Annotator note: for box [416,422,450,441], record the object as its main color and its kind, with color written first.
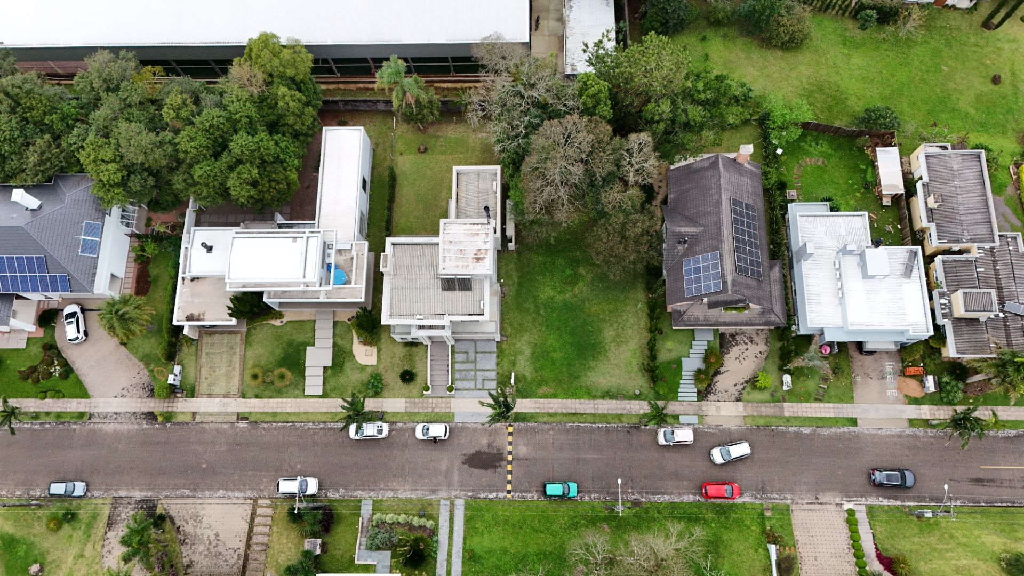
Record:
white car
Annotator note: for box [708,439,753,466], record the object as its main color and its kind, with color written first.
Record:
white car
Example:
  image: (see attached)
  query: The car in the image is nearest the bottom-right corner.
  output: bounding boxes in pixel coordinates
[866,468,914,489]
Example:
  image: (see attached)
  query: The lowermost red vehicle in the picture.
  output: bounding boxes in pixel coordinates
[700,481,741,501]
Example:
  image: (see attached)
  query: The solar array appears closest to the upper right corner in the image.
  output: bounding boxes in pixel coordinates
[730,197,762,280]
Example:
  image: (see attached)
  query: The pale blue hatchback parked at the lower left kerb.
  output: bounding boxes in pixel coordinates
[49,480,89,499]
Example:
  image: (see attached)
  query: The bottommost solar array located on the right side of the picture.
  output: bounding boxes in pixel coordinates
[682,251,723,297]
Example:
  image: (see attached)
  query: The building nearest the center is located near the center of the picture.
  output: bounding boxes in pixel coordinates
[379,166,503,345]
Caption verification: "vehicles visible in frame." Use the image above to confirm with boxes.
[708,439,753,466]
[700,481,741,501]
[656,427,693,446]
[543,481,578,500]
[866,468,914,489]
[276,476,319,497]
[416,422,450,441]
[350,422,390,441]
[49,480,89,499]
[63,306,86,342]
[860,339,879,360]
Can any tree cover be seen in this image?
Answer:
Yes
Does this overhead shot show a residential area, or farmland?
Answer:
residential area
